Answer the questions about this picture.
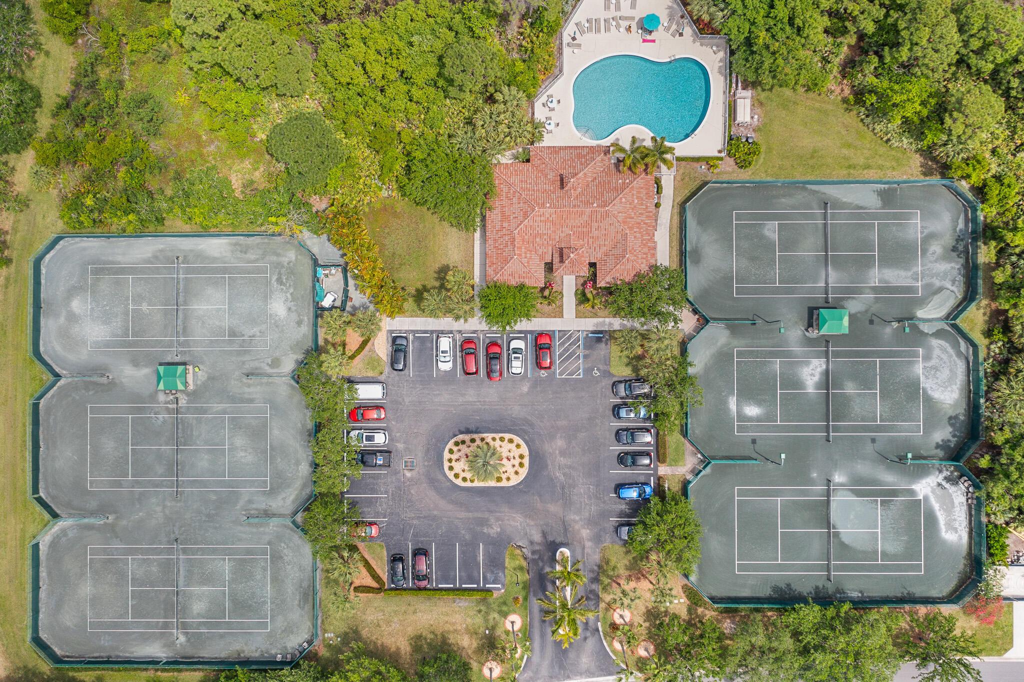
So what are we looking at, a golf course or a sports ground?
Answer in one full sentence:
The picture captures a sports ground.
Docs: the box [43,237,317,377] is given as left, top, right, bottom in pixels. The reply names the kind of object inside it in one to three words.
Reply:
tennis court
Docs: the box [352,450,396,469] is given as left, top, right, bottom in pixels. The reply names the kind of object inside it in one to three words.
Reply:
vehicle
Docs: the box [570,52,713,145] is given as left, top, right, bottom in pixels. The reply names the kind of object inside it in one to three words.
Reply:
swimming pool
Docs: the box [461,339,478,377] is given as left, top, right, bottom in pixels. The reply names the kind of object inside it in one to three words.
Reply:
car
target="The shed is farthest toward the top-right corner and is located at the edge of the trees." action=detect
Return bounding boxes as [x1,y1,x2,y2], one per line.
[736,67,753,127]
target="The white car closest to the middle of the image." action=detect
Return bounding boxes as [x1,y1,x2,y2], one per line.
[508,339,525,376]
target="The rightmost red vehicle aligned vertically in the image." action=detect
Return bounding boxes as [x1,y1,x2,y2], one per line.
[535,333,553,370]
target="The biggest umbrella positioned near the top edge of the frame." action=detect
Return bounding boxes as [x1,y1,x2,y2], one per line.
[642,10,661,28]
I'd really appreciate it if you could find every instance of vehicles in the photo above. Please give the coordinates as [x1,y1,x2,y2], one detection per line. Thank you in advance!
[350,405,386,422]
[390,335,408,371]
[535,333,553,370]
[436,335,453,371]
[461,339,478,377]
[615,428,653,446]
[486,342,503,381]
[347,522,381,539]
[612,405,647,421]
[412,548,430,588]
[617,451,653,469]
[508,339,525,376]
[615,483,653,501]
[390,553,407,588]
[352,450,396,469]
[612,380,651,398]
[350,429,388,447]
[347,382,387,399]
